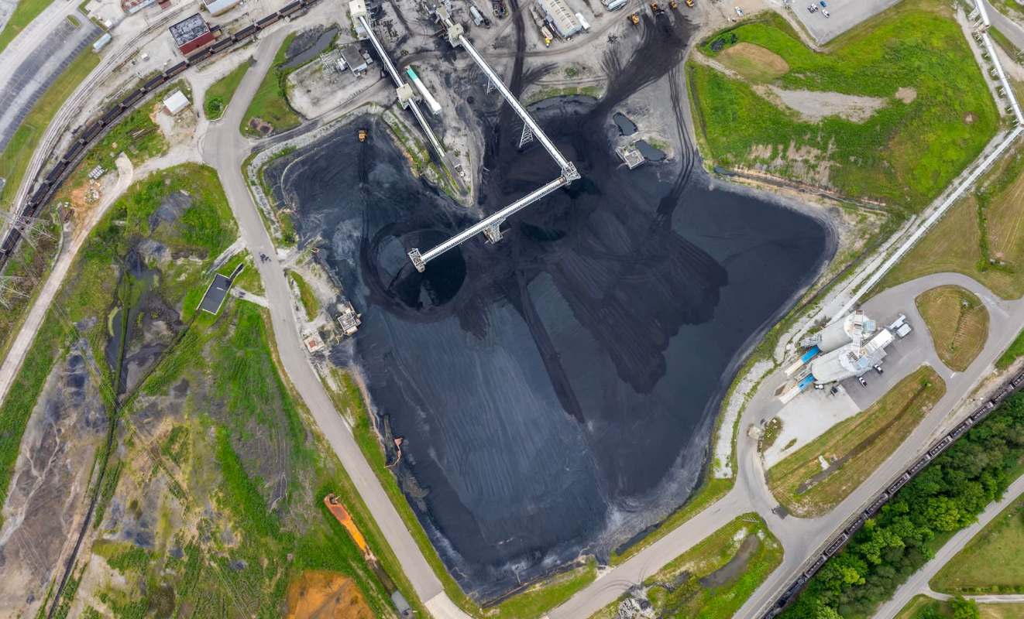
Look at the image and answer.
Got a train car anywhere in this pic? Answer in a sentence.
Yes, a train car appears in the view.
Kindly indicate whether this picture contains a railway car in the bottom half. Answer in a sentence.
Yes, looking in the bottom half, one can make out a railway car.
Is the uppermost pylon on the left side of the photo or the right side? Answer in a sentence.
The uppermost pylon is on the left side of the image.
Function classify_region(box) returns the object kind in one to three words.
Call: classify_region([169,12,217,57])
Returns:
building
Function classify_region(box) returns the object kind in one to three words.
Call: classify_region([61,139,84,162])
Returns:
rail car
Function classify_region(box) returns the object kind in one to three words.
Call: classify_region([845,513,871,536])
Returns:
rail car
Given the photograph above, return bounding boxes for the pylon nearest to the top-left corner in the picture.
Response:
[0,209,53,246]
